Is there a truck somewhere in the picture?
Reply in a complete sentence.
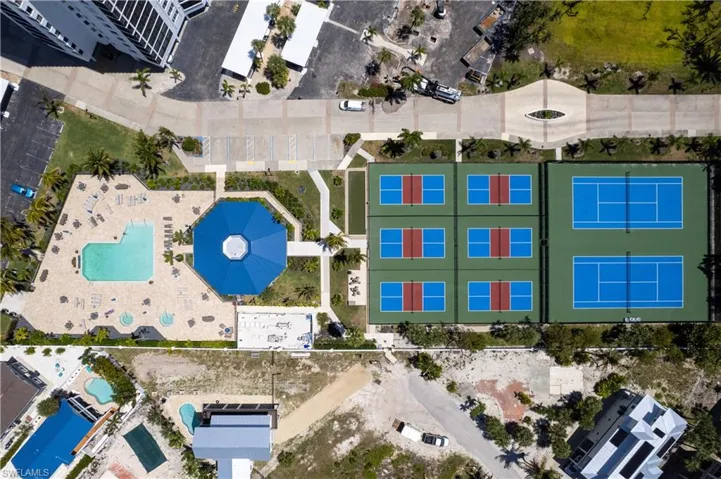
Yes, the picture does show a truck.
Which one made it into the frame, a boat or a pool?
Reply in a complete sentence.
The one in the frame is a pool.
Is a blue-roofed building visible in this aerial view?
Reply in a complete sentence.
Yes, I can see a blue-roofed building in this picture.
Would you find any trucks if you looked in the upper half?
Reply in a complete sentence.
Yes, a truck appears in the upper half.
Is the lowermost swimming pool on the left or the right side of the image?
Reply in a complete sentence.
The lowermost swimming pool sits on the left side.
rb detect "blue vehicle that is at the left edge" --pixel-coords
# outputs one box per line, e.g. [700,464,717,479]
[9,183,35,198]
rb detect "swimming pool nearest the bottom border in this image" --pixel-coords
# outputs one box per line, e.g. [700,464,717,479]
[177,402,198,437]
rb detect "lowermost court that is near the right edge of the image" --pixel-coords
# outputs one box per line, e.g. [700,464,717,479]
[549,243,708,323]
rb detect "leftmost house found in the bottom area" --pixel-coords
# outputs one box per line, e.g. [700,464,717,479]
[0,356,53,438]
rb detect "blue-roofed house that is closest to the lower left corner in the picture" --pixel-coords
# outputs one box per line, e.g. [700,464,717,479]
[0,391,116,479]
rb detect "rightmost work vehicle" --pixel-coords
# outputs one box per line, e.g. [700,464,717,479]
[467,68,485,85]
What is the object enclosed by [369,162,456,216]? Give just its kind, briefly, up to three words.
sports court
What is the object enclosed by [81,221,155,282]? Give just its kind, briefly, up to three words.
swimming pool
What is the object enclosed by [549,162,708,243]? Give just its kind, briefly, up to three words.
tennis court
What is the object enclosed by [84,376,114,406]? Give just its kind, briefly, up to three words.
swimming pool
